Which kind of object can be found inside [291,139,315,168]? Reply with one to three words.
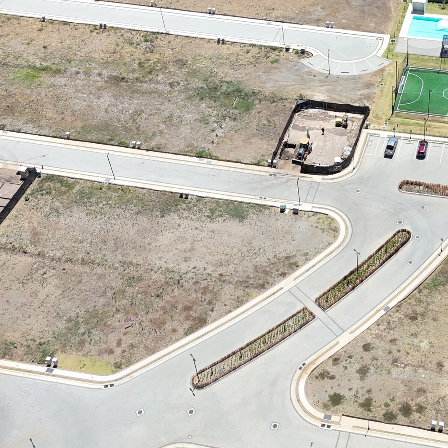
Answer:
work vehicle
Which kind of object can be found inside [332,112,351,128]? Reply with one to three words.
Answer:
work vehicle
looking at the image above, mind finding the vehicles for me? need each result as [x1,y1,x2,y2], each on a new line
[332,112,351,128]
[415,141,427,158]
[383,138,396,157]
[291,139,315,168]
